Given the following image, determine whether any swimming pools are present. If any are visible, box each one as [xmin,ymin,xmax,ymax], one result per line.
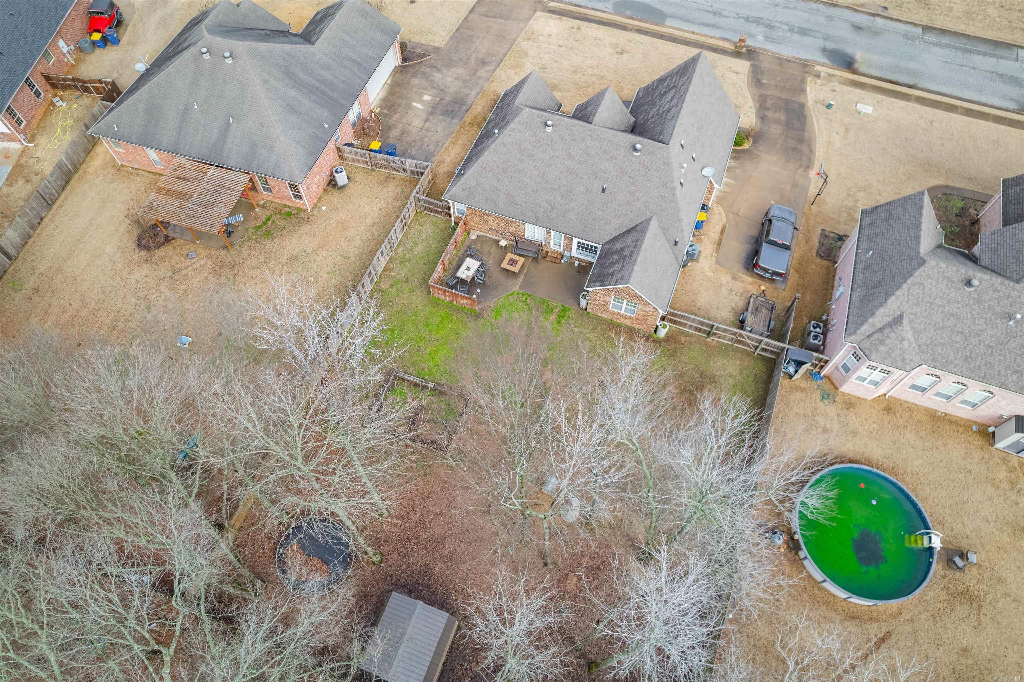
[788,465,937,605]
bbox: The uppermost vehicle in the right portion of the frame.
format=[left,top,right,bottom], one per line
[752,203,800,281]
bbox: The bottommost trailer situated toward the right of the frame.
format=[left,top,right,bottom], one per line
[739,288,776,338]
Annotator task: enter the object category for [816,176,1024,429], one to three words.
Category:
house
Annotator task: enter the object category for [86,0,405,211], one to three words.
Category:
house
